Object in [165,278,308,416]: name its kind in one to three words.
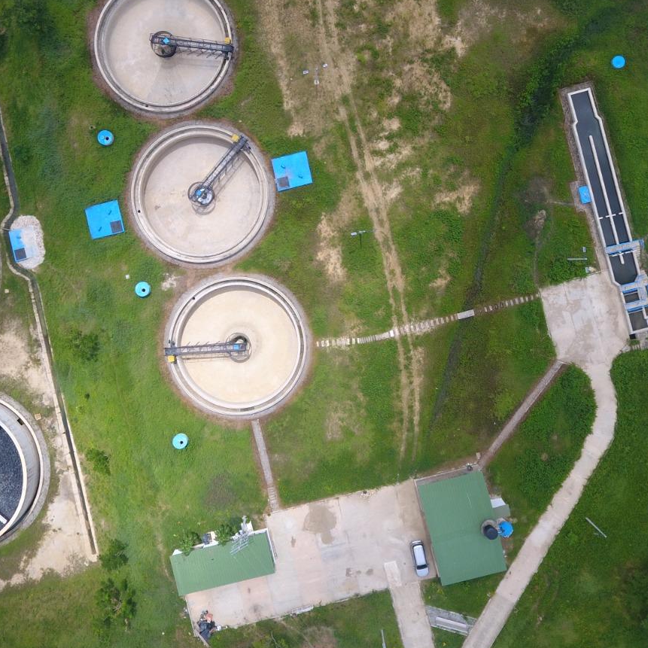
storage tank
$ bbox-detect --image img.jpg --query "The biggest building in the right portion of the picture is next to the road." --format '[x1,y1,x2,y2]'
[419,470,507,587]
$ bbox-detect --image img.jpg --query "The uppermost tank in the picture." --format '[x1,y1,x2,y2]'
[94,0,235,112]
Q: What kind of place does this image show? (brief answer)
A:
industrial area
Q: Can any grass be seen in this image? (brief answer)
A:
Yes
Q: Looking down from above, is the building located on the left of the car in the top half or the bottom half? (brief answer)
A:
bottom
